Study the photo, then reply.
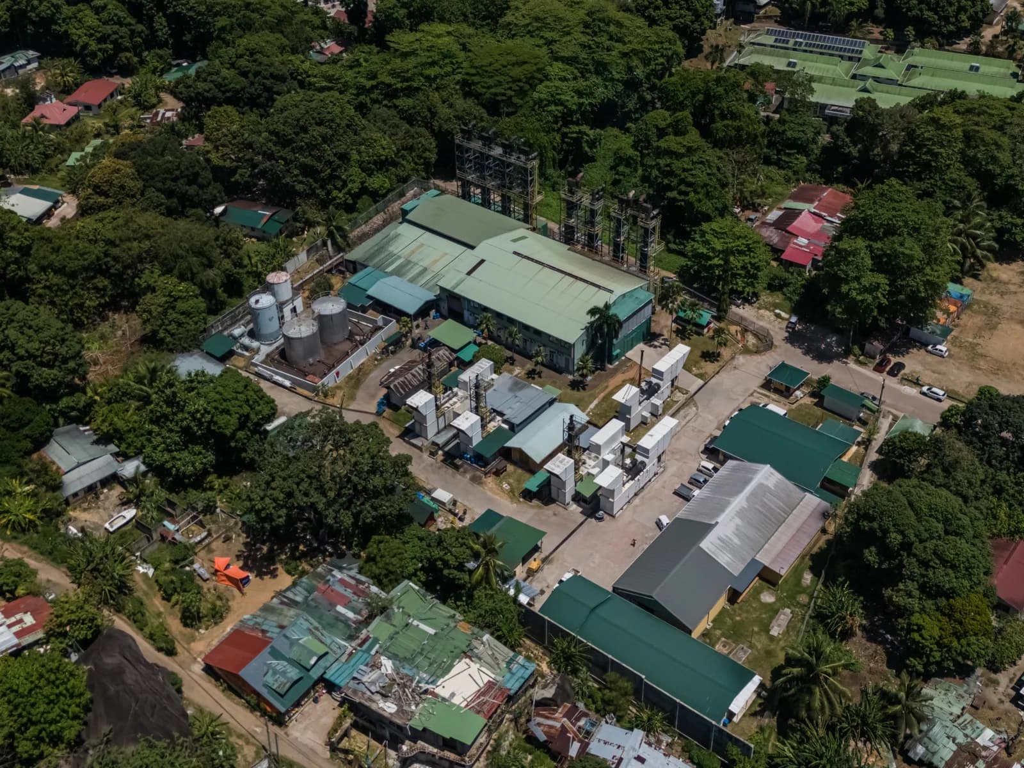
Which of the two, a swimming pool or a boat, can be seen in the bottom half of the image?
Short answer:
boat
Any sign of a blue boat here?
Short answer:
No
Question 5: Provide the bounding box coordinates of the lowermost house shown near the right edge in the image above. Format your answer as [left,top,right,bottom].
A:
[902,712,1016,768]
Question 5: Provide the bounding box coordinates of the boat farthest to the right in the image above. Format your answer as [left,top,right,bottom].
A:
[186,529,210,545]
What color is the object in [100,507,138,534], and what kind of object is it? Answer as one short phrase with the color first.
white boat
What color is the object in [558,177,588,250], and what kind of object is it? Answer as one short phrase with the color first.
black chimney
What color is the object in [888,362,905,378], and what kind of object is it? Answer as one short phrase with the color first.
black car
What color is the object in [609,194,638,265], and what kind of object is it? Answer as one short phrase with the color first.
black chimney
